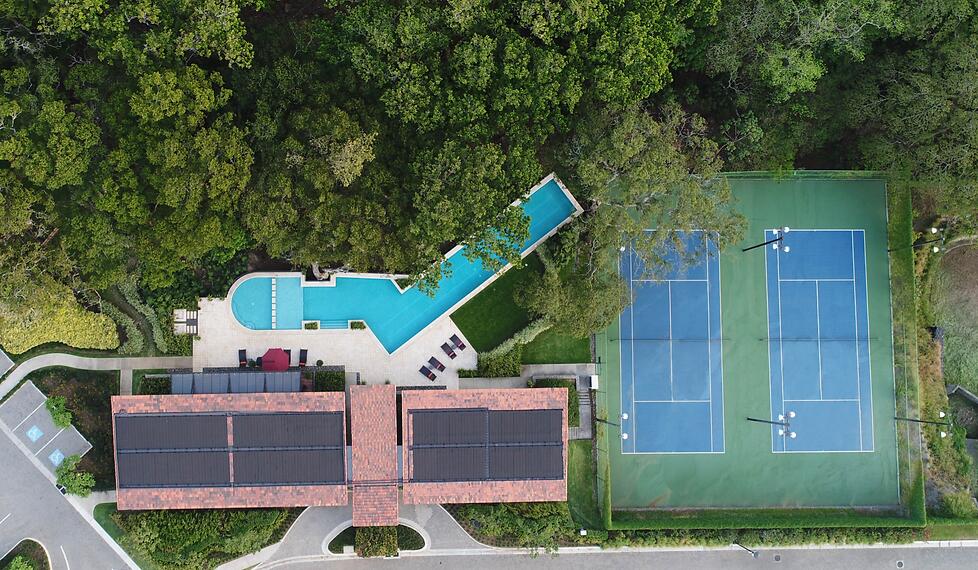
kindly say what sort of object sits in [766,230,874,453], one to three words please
tennis court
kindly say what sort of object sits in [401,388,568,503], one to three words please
building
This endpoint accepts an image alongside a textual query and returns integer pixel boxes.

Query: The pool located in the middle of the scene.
[226,173,583,360]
